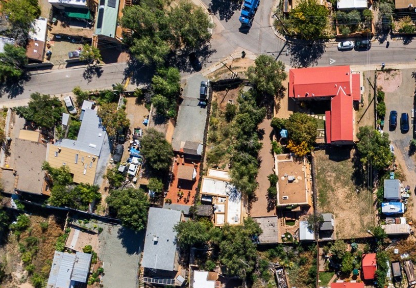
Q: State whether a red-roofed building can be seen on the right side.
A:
Yes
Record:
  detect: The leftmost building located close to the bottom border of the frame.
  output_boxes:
[48,251,96,288]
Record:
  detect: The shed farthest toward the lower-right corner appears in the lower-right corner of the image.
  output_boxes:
[363,254,378,279]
